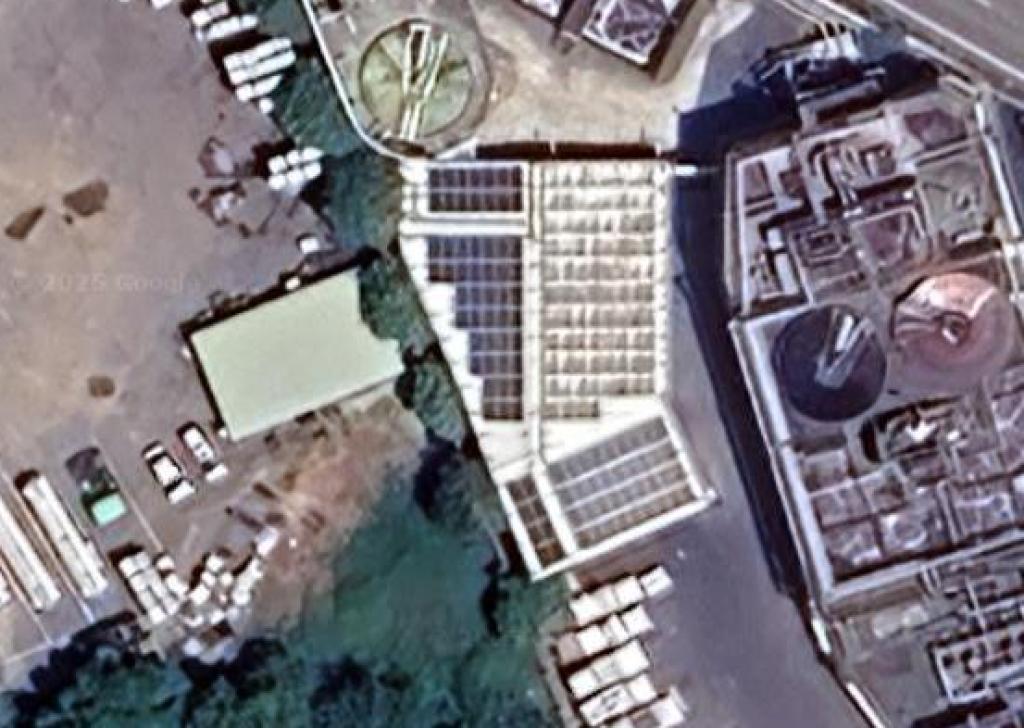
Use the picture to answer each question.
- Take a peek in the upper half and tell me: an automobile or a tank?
tank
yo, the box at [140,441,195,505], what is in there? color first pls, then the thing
white car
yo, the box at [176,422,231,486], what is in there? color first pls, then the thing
white car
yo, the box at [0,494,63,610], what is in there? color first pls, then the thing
white trailer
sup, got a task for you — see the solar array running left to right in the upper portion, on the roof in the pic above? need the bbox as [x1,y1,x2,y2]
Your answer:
[429,166,524,212]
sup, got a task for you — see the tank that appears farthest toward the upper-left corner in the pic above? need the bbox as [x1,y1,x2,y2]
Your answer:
[356,18,490,150]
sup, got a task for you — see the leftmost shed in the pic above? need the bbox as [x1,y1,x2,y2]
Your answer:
[191,269,404,440]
